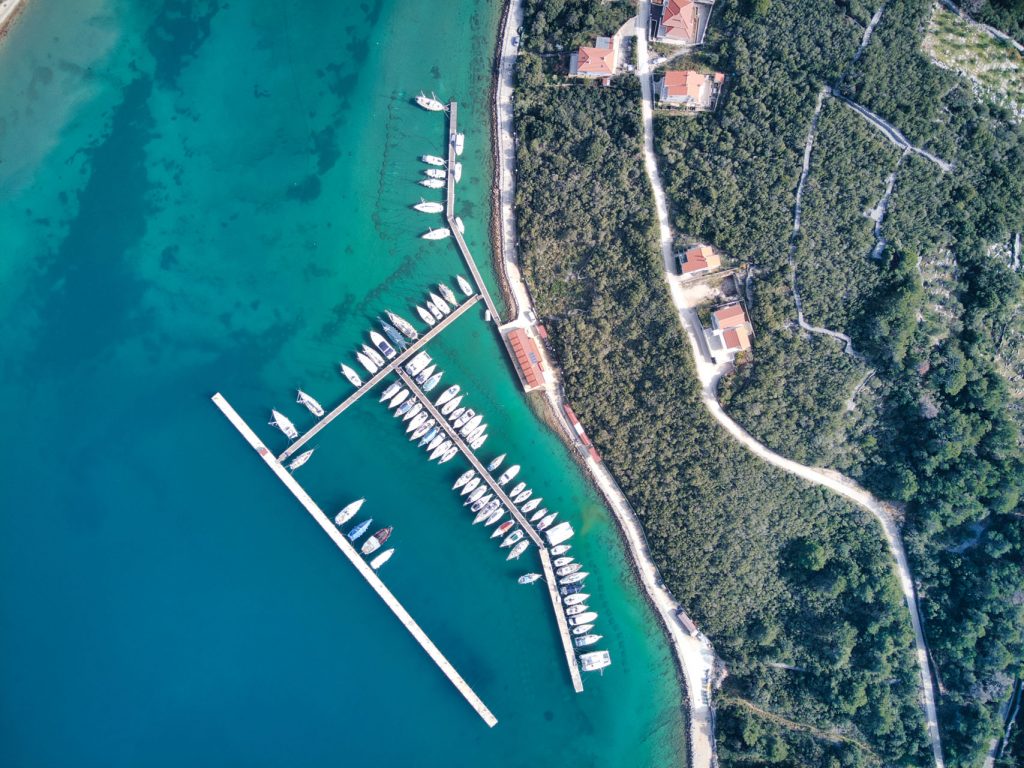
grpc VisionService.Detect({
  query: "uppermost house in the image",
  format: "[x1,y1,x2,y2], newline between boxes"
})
[657,0,700,46]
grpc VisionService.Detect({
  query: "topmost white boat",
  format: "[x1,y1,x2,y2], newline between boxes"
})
[414,92,451,112]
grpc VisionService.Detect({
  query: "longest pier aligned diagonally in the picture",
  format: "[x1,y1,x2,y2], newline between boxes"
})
[211,392,498,727]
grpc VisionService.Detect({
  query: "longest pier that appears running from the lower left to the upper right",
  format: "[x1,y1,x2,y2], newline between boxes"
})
[284,295,479,461]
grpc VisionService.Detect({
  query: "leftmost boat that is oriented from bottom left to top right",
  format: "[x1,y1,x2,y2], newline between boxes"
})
[291,450,313,474]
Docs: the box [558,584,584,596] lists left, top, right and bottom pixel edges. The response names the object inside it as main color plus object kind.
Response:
blue boat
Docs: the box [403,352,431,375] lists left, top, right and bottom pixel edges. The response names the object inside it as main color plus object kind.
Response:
white boat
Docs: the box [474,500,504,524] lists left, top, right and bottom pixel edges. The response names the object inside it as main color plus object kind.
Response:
white boat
